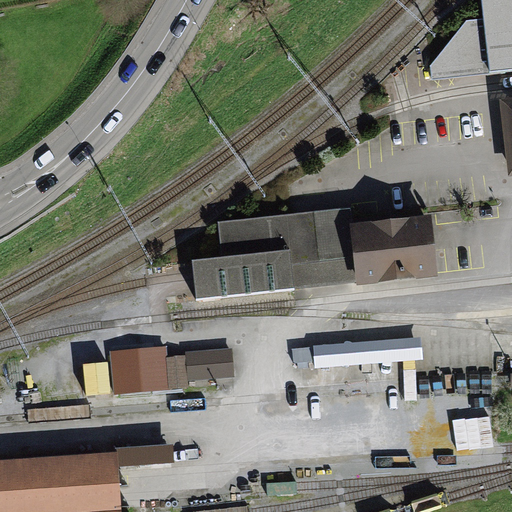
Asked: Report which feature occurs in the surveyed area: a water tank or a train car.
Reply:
train car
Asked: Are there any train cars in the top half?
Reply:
No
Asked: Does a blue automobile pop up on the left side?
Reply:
Yes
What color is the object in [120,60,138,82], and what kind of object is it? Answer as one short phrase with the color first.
blue car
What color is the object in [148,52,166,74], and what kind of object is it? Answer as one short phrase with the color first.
black car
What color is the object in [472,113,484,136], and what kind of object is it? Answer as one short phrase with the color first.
white vehicle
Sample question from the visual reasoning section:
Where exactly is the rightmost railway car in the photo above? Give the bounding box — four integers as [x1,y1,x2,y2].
[402,492,453,512]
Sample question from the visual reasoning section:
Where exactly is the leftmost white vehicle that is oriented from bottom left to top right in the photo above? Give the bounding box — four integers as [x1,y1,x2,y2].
[34,150,56,168]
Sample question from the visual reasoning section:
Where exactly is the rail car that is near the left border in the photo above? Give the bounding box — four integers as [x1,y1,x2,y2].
[24,405,93,424]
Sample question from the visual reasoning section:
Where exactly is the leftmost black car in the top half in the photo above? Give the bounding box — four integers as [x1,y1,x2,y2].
[38,174,58,192]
